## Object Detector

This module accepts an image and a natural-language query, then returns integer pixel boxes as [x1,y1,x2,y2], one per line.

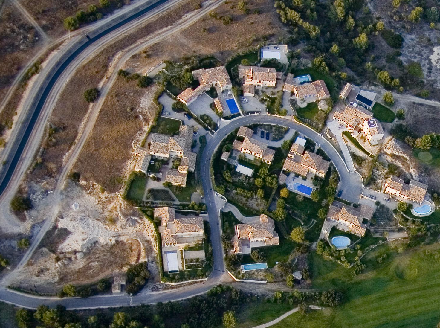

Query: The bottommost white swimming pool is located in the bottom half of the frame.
[163,250,181,274]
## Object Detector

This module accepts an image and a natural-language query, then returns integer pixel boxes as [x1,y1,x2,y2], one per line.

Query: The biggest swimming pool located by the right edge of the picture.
[410,202,434,218]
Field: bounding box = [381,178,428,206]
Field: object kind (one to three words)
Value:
house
